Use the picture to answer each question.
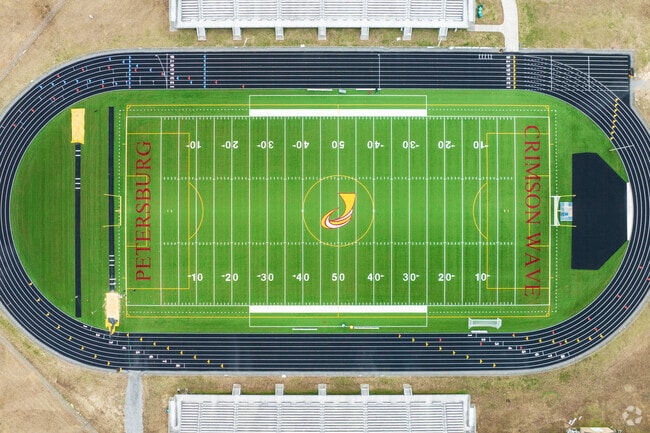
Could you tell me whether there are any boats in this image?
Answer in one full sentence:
No, I can't see a single boat in this photo.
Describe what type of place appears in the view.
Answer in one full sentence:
This image shows a sports ground.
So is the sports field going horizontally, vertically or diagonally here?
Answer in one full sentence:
The sports field runs horizontally in the image.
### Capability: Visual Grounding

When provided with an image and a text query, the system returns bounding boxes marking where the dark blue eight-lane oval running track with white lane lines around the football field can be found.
[0,52,650,370]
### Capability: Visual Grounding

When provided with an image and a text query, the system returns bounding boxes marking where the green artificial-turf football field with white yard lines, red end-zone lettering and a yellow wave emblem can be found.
[119,95,557,326]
